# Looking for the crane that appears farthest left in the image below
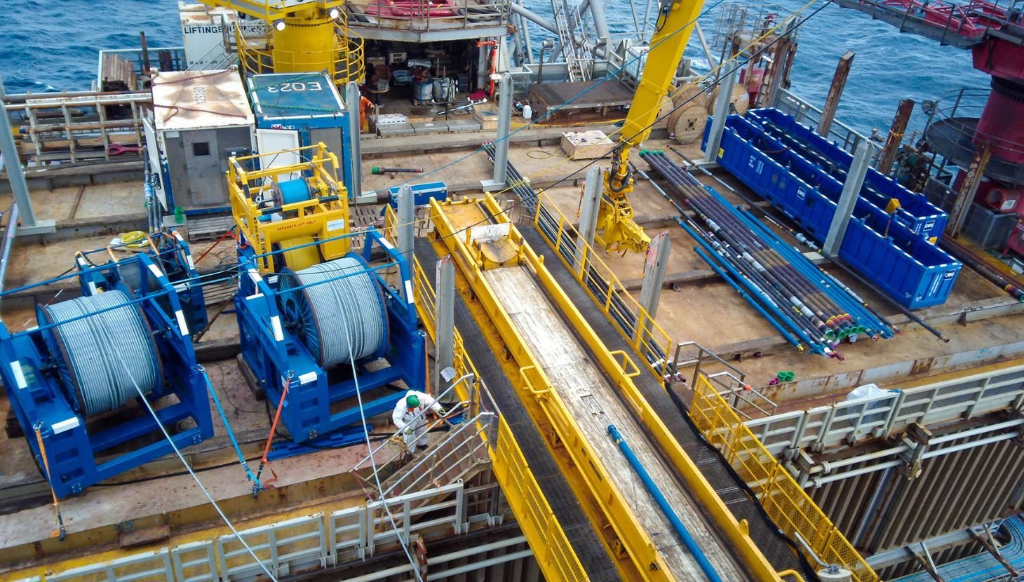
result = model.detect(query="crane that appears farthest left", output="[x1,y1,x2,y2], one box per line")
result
[228,0,370,95]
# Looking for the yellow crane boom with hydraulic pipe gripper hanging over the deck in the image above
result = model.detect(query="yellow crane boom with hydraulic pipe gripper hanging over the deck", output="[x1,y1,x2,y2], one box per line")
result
[578,0,700,243]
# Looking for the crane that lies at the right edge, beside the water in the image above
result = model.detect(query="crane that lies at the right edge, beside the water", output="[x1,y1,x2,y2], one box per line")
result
[889,3,1024,253]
